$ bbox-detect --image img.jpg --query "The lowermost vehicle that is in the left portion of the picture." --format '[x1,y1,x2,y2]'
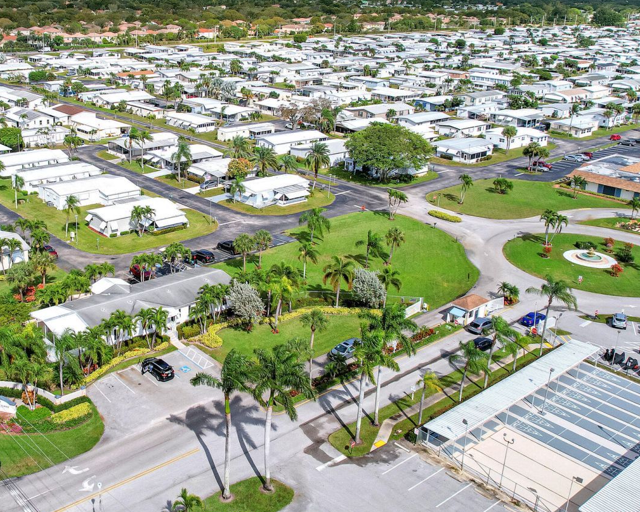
[143,357,178,381]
